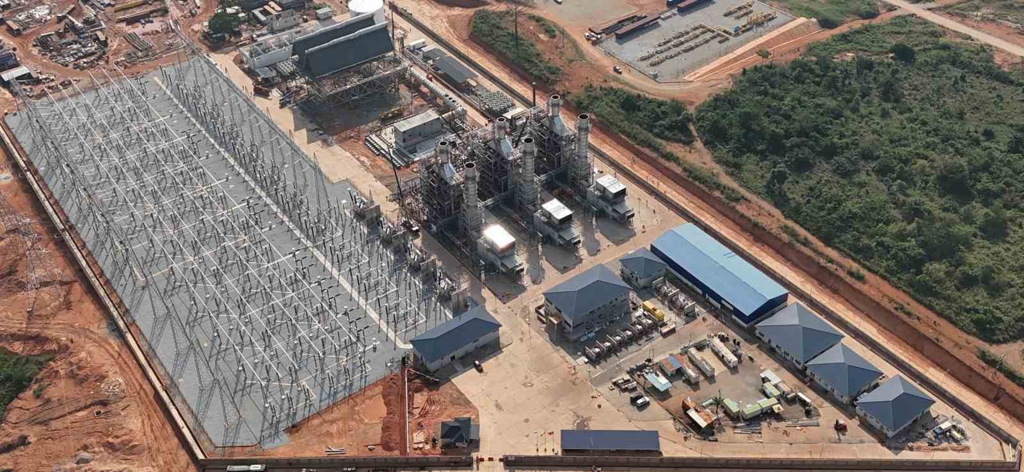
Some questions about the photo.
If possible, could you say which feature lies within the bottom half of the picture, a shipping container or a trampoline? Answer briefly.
shipping container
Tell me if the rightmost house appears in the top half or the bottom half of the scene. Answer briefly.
bottom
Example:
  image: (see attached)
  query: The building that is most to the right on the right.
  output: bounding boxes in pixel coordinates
[853,373,933,440]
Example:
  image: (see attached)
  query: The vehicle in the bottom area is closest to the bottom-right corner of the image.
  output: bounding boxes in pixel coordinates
[934,415,960,438]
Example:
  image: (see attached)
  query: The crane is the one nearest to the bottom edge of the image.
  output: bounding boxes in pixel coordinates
[386,146,419,237]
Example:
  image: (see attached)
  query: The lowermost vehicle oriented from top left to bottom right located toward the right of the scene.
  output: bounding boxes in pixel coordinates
[831,411,848,432]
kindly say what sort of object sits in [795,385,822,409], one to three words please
truck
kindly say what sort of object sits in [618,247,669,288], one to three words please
building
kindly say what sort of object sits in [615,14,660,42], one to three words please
shed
